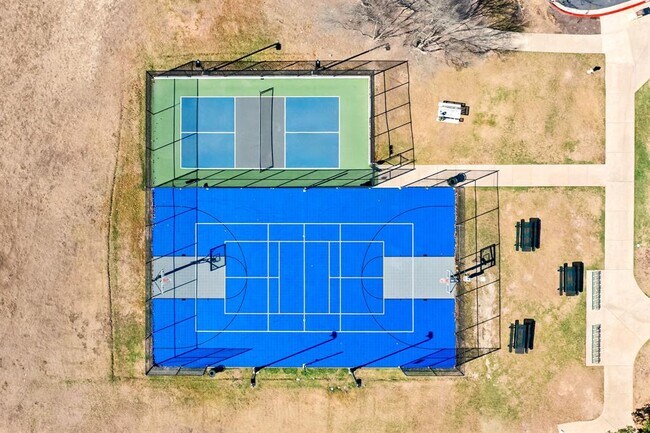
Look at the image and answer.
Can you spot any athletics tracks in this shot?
No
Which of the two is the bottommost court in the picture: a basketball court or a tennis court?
basketball court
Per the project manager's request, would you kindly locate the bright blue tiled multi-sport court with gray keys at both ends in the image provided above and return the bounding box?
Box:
[152,188,458,368]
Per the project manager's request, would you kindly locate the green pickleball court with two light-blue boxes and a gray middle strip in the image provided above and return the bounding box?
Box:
[152,76,372,187]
